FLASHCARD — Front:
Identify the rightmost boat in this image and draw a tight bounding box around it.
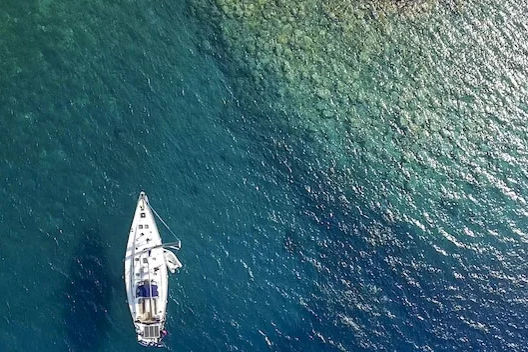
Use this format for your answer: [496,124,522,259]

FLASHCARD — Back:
[164,249,183,274]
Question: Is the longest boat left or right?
left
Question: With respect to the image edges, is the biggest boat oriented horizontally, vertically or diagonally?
vertically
